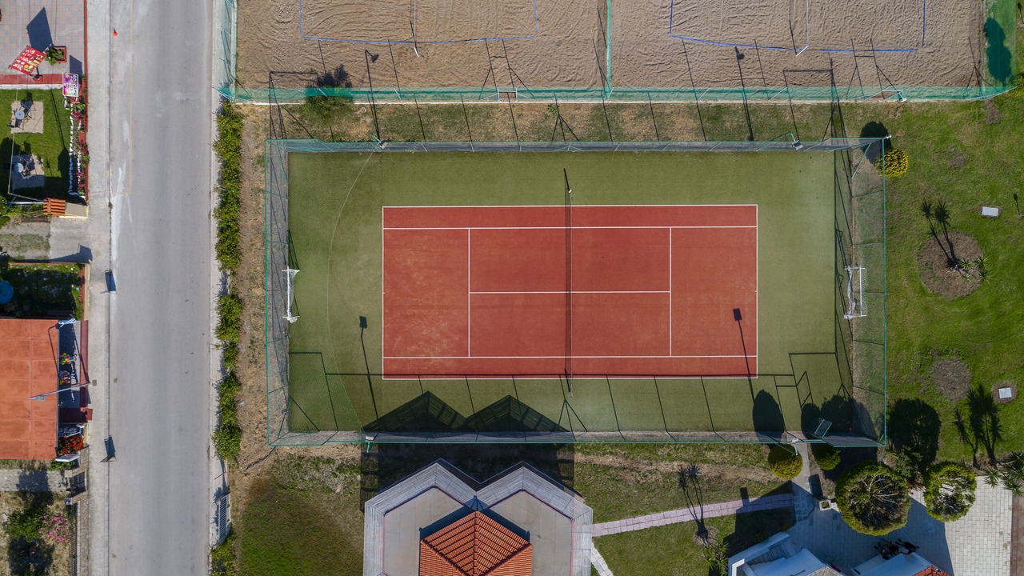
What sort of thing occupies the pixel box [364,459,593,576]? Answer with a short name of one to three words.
building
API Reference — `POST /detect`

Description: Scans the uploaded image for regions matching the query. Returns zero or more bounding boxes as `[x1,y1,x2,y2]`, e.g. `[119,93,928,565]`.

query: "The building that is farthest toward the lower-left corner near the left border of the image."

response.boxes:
[0,319,81,460]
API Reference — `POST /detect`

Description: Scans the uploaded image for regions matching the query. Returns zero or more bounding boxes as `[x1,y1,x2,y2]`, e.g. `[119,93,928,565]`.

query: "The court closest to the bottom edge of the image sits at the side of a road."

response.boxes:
[288,152,852,432]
